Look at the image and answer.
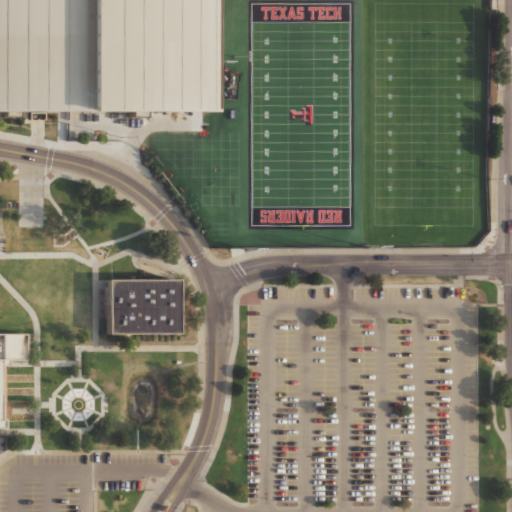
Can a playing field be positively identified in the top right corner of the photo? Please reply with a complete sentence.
Yes, a playing field is visible in the top right corner of the photo.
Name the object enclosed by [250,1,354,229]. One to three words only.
sports field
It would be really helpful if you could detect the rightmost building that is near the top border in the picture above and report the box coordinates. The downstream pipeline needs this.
[94,0,222,113]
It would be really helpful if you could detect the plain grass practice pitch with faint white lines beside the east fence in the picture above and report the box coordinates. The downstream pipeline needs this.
[362,0,488,247]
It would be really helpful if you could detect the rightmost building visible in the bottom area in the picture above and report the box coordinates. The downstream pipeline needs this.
[108,280,184,334]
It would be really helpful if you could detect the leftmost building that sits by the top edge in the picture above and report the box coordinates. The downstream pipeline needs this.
[0,0,100,113]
